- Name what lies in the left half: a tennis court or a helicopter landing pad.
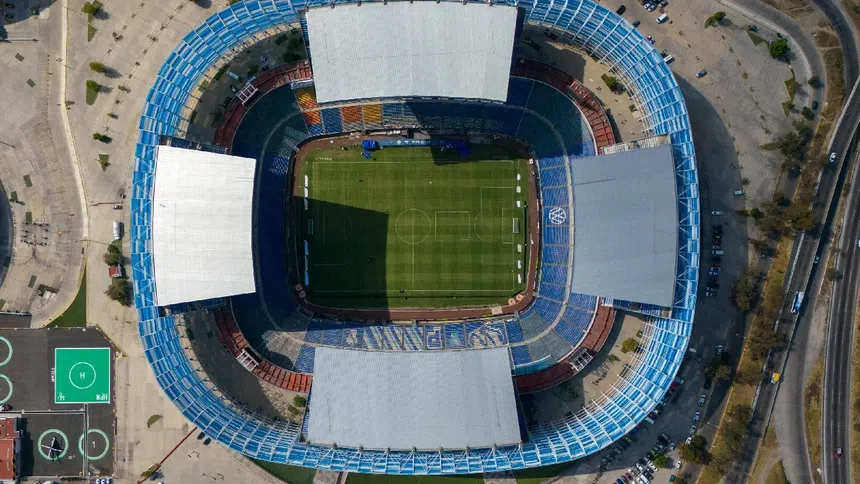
helicopter landing pad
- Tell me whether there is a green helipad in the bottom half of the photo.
Yes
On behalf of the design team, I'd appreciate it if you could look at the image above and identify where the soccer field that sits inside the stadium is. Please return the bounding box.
[296,145,528,308]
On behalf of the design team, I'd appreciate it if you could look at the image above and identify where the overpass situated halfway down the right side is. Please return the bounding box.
[729,74,860,484]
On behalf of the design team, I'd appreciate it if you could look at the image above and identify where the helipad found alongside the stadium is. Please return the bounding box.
[51,348,110,403]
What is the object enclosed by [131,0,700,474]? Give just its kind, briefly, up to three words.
stadium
